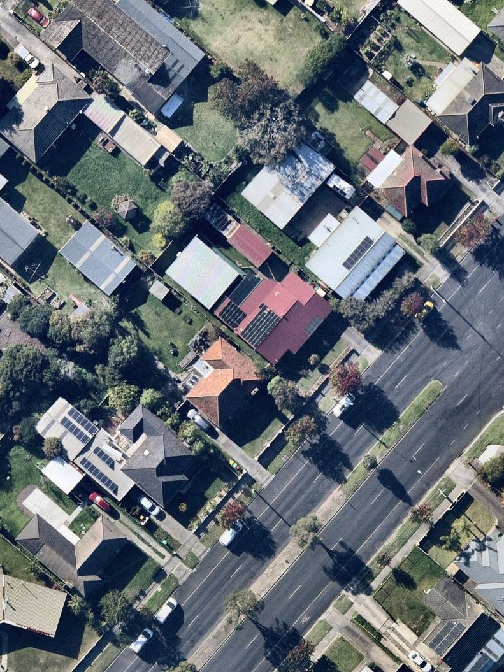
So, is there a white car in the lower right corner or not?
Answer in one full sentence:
Yes, looking in the lower right corner, one can make out a white car.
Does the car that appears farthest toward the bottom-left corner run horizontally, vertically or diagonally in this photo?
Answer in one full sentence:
In this picture, the car that appears farthest toward the bottom-left corner is oriented diagonally.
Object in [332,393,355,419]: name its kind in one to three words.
car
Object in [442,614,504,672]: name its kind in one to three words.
house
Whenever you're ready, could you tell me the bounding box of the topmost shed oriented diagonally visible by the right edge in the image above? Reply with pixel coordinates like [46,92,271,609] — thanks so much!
[397,0,481,56]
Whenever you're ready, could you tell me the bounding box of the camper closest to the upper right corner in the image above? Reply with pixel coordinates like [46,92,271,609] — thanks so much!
[330,174,356,198]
